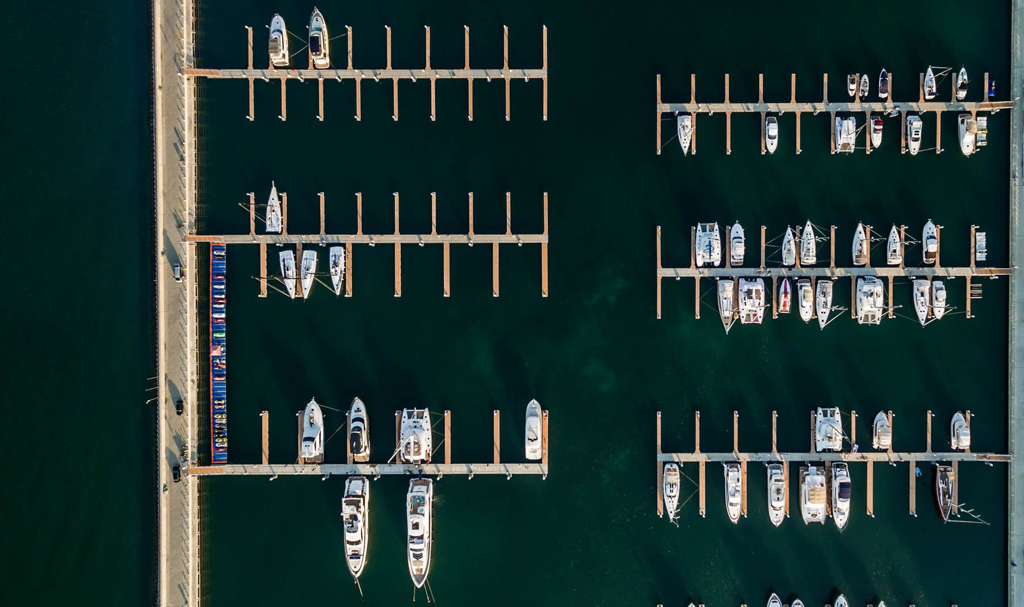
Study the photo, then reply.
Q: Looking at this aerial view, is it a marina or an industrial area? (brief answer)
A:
marina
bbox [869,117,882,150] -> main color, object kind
white boat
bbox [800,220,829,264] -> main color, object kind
white boat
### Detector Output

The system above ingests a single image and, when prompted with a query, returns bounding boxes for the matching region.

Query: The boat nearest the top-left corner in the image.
[268,13,291,68]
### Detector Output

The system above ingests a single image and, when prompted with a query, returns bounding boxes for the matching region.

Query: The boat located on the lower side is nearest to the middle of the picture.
[526,397,542,459]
